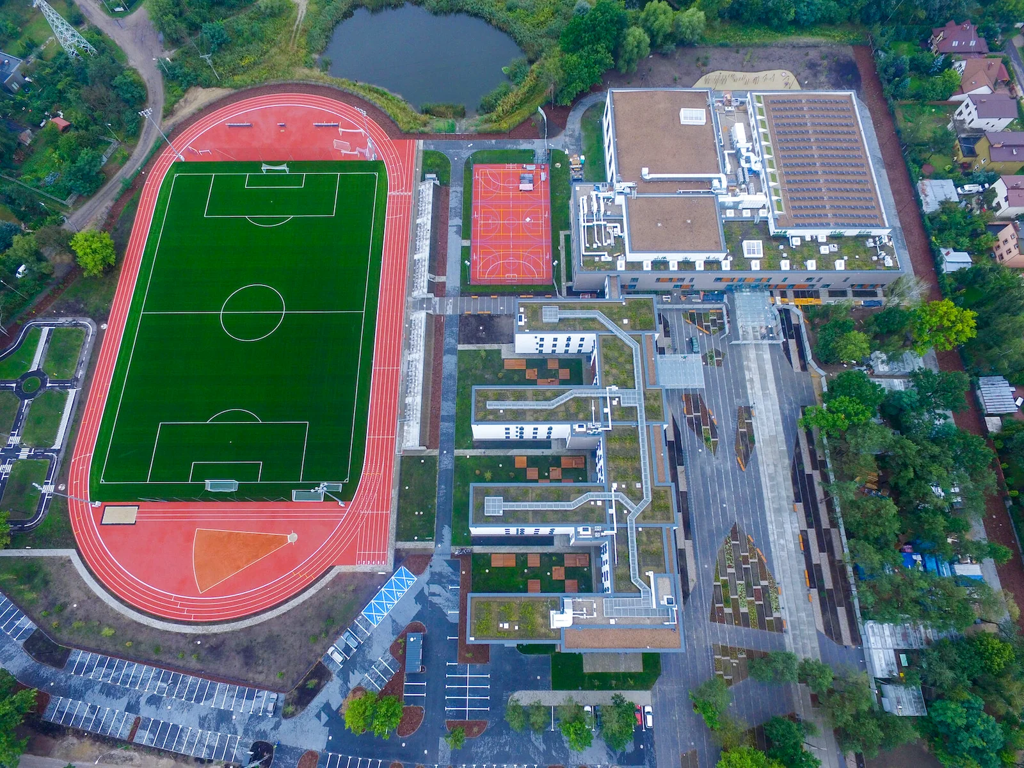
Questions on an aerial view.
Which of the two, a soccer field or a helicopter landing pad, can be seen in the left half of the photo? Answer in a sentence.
The feature located in the left half of the photo is a soccer field.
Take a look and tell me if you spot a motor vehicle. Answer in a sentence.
Yes, this view includes a motor vehicle.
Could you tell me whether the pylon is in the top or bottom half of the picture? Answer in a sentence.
You can find the pylon in the top half.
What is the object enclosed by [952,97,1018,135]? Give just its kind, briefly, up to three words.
house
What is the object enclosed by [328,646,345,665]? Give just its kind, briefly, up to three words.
car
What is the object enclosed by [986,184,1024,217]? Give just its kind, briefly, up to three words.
house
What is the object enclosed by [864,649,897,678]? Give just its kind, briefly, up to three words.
shed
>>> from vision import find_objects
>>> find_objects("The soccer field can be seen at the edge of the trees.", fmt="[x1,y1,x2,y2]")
[97,161,378,501]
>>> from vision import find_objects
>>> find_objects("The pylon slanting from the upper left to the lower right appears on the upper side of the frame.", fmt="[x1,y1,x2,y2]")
[32,0,94,60]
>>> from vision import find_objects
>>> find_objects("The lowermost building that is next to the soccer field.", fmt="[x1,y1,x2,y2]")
[466,298,687,653]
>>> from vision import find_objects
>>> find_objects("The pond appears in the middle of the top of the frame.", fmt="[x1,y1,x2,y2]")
[320,3,525,117]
